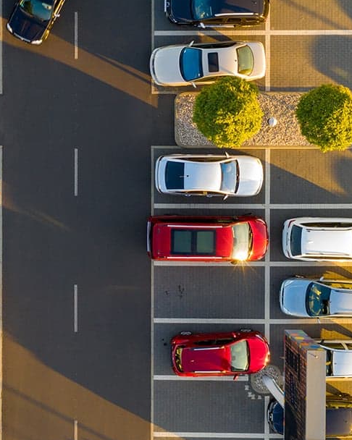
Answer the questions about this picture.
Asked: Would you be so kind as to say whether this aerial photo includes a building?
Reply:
No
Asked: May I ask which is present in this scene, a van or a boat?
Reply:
van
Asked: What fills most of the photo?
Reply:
paved ground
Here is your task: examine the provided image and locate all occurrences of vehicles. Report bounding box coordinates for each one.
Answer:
[164,0,272,26]
[7,0,66,43]
[147,215,269,265]
[310,336,352,379]
[150,41,266,87]
[172,332,269,380]
[155,155,263,200]
[279,276,352,322]
[282,217,352,262]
